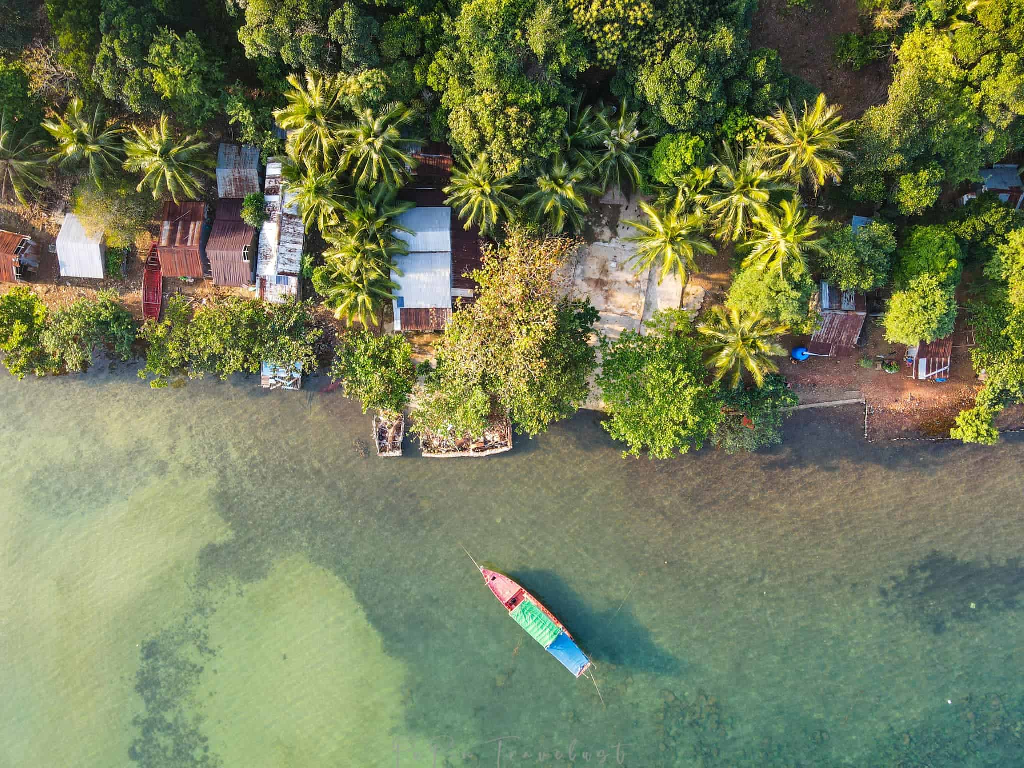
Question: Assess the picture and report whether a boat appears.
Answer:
Yes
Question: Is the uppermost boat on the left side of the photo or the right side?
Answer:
left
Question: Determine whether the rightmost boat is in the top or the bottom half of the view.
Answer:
bottom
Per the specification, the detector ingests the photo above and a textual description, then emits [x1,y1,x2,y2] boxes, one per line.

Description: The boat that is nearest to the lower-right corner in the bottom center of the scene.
[480,564,596,682]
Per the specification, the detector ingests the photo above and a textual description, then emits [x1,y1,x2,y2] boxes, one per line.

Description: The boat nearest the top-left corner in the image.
[139,241,163,325]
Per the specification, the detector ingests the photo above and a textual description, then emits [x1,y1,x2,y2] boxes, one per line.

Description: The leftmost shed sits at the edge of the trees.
[0,231,46,283]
